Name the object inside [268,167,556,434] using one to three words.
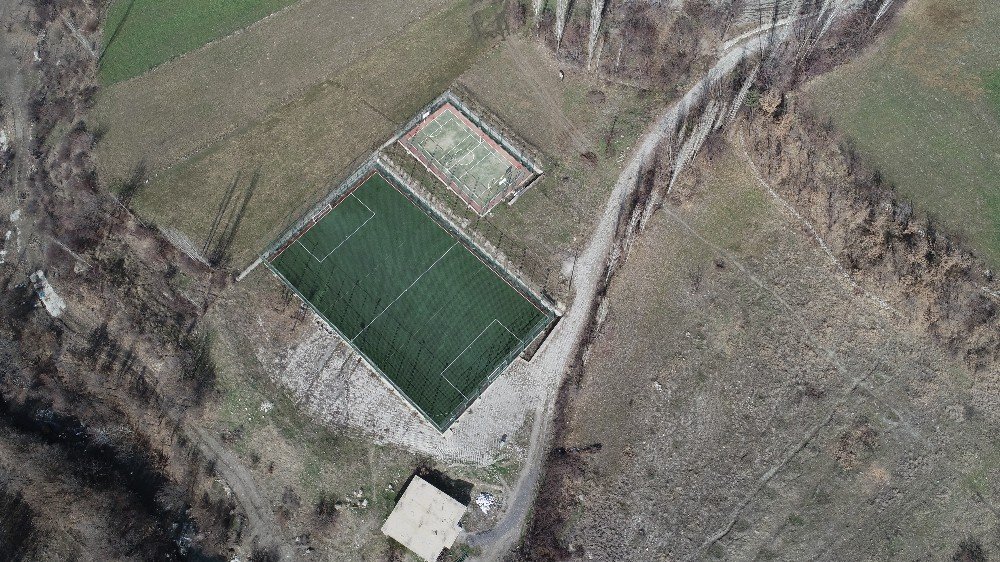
soccer field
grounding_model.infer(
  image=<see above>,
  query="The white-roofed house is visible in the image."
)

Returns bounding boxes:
[383,476,467,562]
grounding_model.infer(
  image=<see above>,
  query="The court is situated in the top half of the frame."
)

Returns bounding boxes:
[398,102,533,217]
